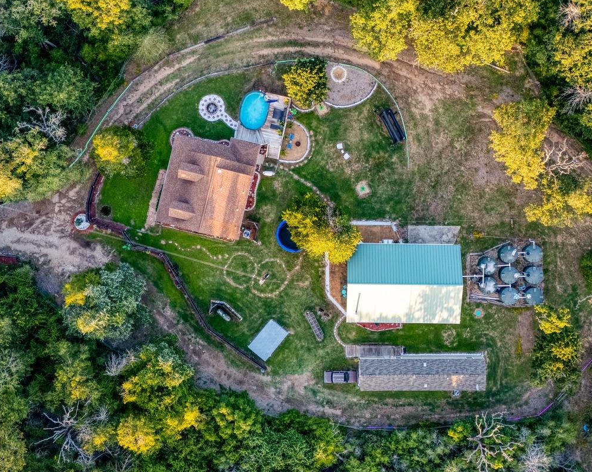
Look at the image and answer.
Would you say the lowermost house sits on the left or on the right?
right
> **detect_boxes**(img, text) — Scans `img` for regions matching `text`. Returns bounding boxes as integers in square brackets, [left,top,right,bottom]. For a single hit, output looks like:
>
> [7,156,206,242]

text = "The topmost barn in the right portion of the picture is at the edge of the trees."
[346,243,463,324]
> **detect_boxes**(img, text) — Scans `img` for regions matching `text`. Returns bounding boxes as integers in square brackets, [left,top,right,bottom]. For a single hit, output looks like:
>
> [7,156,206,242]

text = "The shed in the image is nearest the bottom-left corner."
[249,318,289,360]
